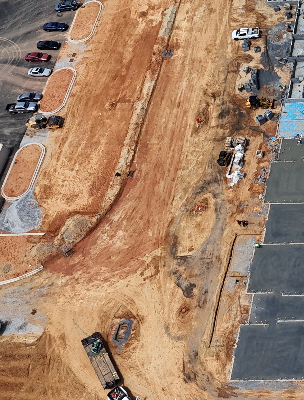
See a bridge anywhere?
No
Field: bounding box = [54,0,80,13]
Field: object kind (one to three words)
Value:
vehicle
